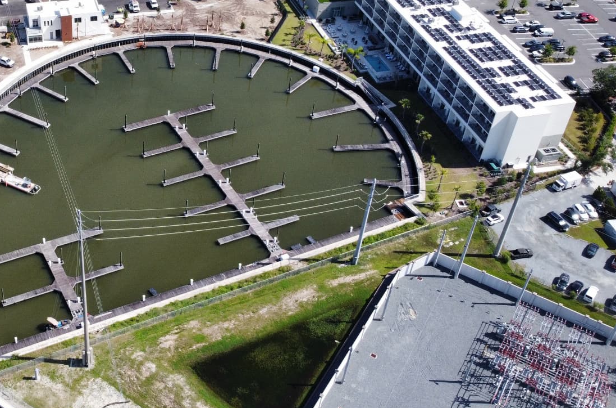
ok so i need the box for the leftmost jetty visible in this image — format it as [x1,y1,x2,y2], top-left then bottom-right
[0,227,124,320]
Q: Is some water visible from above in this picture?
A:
Yes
